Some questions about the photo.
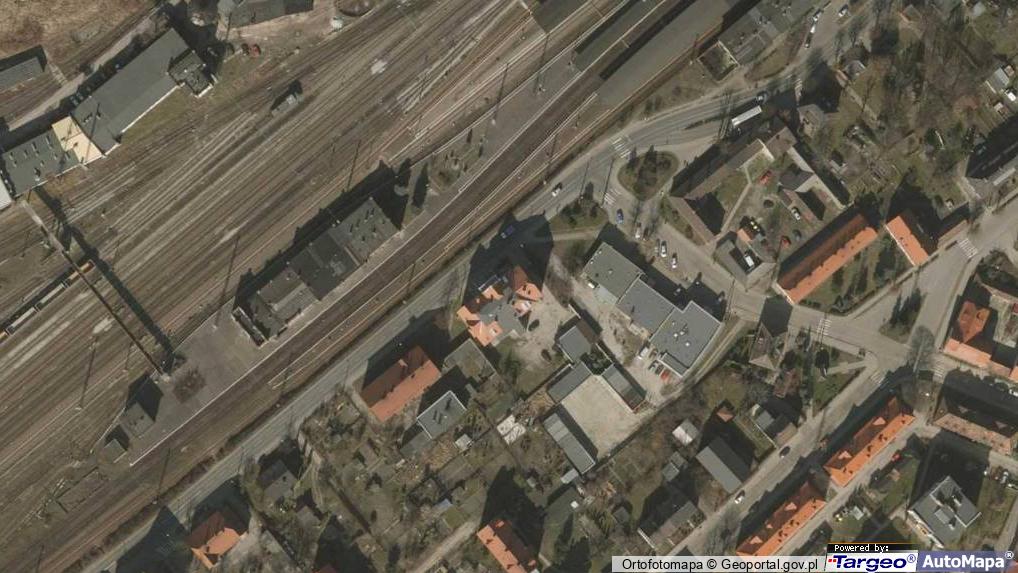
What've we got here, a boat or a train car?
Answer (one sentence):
This aerial view contains a train car.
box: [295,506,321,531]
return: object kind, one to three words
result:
building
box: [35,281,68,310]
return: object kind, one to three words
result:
rail car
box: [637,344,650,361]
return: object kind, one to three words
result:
vehicle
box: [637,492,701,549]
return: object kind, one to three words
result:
house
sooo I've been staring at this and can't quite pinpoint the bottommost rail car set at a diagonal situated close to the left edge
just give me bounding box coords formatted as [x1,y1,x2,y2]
[6,305,39,334]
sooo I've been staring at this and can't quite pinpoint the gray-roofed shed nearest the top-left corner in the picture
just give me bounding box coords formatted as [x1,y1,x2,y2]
[0,57,45,96]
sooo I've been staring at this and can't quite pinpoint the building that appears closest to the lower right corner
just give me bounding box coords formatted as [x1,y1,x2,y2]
[903,476,981,548]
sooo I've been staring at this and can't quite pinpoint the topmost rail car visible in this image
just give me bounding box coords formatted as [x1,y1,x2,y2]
[65,258,94,286]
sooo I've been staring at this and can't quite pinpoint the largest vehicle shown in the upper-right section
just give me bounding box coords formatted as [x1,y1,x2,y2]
[730,104,764,125]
